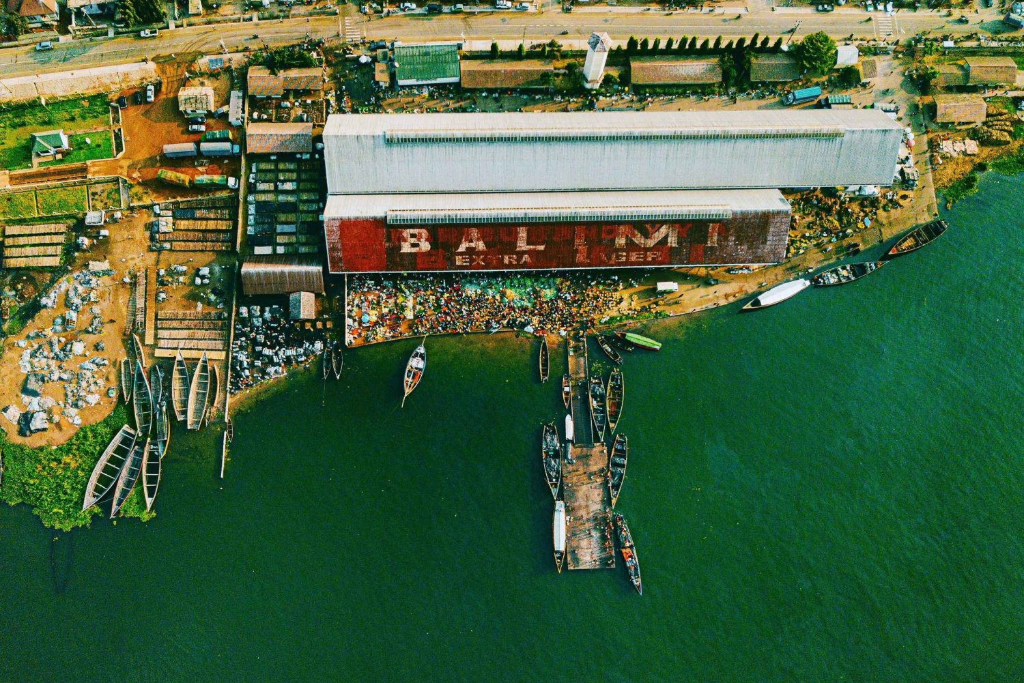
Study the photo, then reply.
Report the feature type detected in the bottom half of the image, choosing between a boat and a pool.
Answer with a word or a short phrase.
boat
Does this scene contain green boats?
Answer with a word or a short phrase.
Yes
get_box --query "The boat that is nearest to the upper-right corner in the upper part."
[886,219,951,256]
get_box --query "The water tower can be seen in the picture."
[582,32,614,92]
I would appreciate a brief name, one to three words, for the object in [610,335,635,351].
boat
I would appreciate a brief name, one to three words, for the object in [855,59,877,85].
building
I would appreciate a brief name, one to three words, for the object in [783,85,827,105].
vehicle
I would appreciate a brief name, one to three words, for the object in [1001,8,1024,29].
truck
